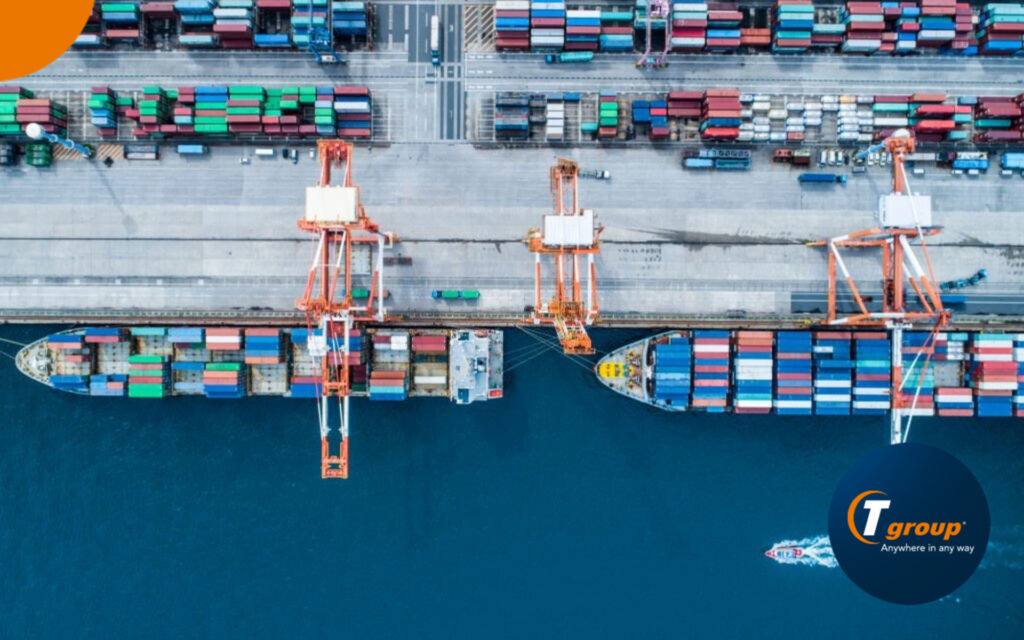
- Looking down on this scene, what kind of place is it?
port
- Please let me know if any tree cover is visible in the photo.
No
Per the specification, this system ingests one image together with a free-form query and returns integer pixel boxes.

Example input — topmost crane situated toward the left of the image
[311,0,350,62]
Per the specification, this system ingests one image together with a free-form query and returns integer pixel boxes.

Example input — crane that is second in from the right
[638,0,672,68]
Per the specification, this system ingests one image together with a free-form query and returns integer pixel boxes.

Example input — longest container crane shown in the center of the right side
[805,138,959,484]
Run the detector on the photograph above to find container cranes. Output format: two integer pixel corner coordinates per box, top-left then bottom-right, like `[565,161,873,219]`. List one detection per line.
[805,138,959,484]
[520,156,608,353]
[311,0,350,62]
[285,138,400,478]
[638,0,672,68]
